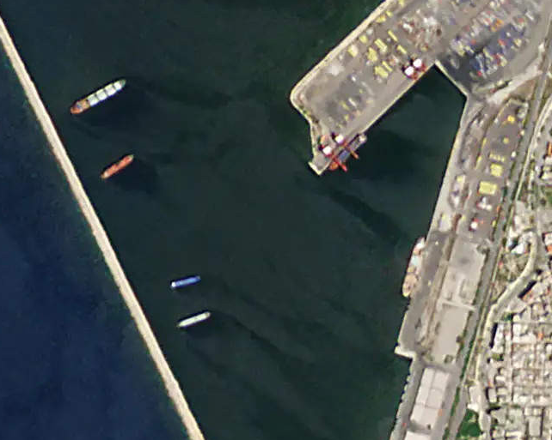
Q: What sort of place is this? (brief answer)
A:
port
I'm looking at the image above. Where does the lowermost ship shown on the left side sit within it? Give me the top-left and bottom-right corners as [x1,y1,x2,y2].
[178,312,211,327]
